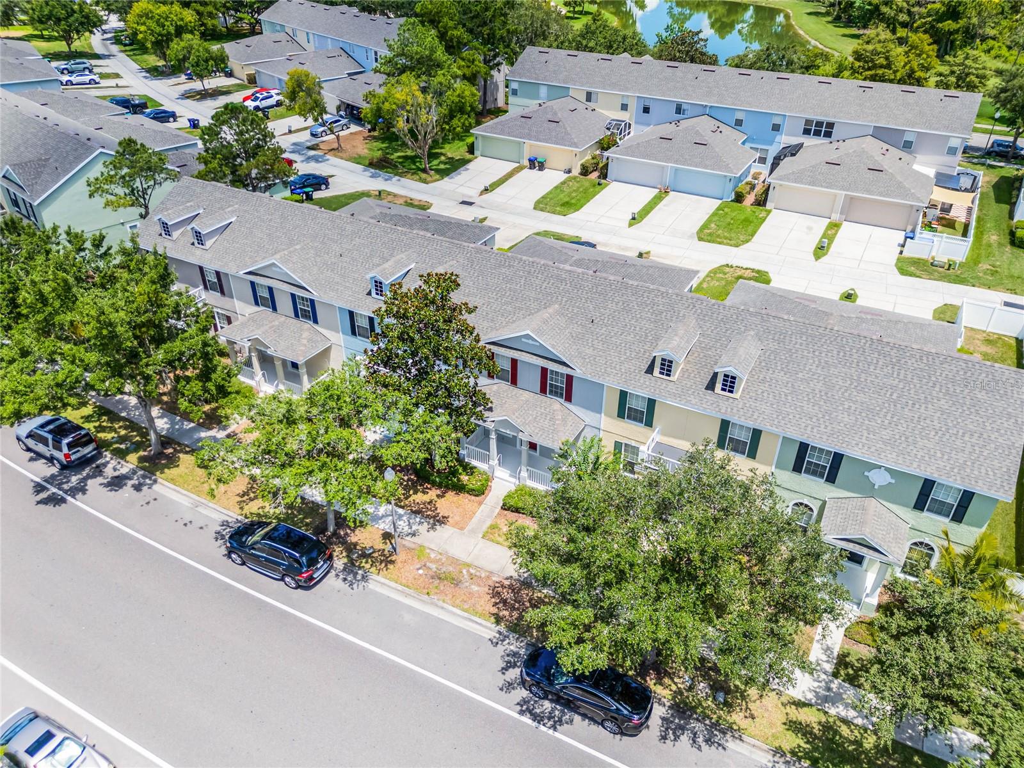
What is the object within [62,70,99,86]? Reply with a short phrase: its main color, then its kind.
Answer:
white car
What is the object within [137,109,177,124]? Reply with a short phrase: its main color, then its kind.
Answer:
blue car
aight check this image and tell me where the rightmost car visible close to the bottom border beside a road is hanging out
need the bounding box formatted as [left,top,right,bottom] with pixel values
[517,642,656,737]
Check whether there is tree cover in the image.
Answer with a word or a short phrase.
Yes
